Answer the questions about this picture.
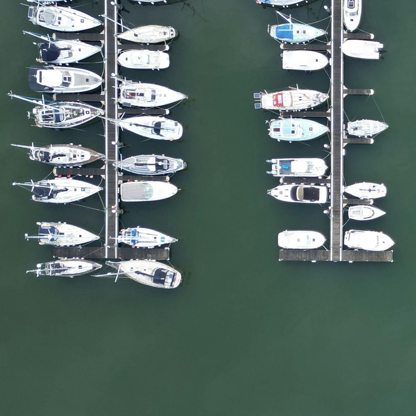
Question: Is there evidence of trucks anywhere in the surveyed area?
No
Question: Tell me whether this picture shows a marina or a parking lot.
marina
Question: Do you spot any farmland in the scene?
No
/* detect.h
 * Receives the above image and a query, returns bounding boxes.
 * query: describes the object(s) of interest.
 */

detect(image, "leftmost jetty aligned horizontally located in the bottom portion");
[54,246,105,259]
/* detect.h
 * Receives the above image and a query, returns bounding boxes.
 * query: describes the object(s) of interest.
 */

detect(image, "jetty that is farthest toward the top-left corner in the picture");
[50,27,105,47]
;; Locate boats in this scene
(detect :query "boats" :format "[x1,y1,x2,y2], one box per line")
[8,92,104,127]
[20,30,104,63]
[11,179,103,205]
[343,120,389,138]
[108,75,187,107]
[280,51,329,73]
[266,183,330,202]
[267,10,328,46]
[102,154,188,174]
[26,0,103,32]
[344,205,387,220]
[262,116,330,142]
[91,257,183,287]
[23,225,101,248]
[117,181,180,202]
[343,228,395,250]
[267,159,328,178]
[107,228,178,249]
[254,86,328,112]
[339,40,386,60]
[22,257,103,275]
[91,113,185,141]
[113,50,172,72]
[342,183,386,200]
[98,12,179,45]
[25,66,104,94]
[344,0,361,31]
[8,142,105,168]
[278,231,325,250]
